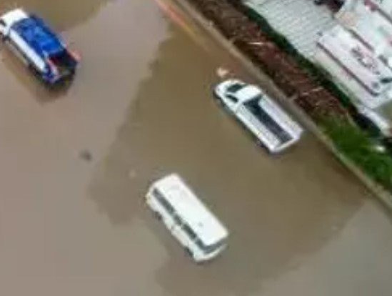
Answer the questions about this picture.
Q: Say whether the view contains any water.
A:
Yes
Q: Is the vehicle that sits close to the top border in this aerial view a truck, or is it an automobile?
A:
truck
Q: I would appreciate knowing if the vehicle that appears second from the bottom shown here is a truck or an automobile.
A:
truck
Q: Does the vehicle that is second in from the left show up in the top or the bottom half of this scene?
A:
bottom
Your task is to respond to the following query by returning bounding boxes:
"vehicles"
[145,179,224,261]
[2,14,77,92]
[221,84,302,154]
